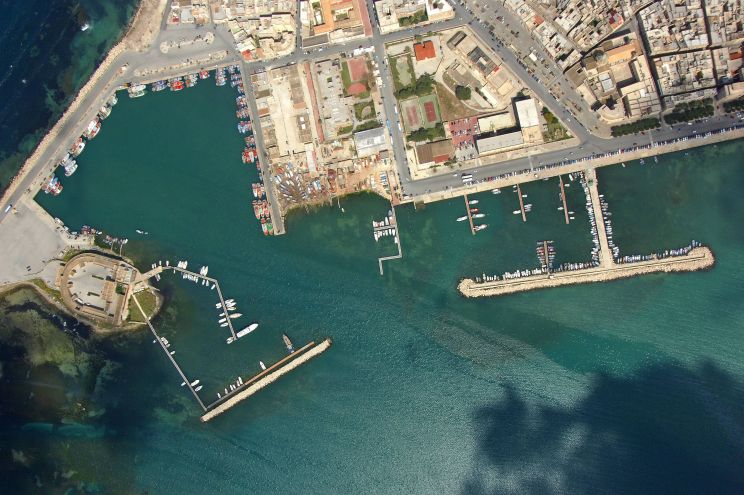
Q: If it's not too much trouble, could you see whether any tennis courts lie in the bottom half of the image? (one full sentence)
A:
No, the scene shows no tennis court in the bottom half of the image.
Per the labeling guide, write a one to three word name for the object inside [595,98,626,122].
building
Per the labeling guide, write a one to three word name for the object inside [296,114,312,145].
shed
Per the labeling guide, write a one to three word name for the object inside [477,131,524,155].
shed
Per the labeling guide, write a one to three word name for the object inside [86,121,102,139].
boat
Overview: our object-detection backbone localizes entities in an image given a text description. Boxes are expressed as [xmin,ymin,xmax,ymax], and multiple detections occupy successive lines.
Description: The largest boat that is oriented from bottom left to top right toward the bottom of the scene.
[235,324,258,339]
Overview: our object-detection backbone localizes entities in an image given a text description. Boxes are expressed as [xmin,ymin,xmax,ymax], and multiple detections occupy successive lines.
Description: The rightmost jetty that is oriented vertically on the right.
[583,168,618,267]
